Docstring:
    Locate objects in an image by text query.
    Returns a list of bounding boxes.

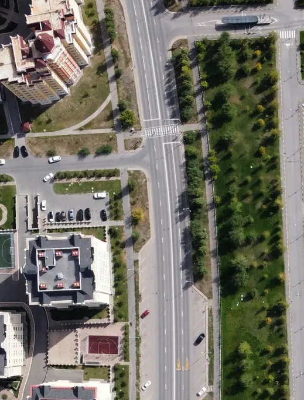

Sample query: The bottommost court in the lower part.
[88,335,118,354]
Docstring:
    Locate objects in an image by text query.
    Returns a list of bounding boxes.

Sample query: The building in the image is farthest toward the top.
[24,0,90,52]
